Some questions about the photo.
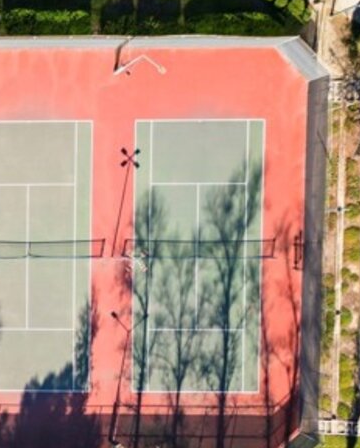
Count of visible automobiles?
0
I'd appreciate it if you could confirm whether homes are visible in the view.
No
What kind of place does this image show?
sports ground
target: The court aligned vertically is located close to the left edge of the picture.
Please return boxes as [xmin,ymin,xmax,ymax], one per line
[0,120,92,391]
